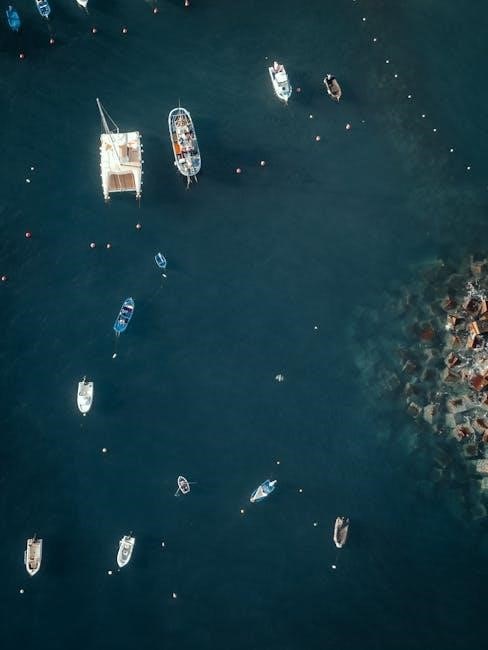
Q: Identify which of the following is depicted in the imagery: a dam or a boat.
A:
boat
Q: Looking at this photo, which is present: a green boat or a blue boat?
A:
blue boat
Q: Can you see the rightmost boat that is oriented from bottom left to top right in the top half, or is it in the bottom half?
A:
bottom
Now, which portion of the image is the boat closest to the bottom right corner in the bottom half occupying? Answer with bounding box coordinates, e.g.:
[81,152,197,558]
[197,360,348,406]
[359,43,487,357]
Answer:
[334,512,348,548]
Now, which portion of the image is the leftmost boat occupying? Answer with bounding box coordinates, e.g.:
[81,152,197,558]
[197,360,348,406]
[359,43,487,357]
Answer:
[5,4,20,32]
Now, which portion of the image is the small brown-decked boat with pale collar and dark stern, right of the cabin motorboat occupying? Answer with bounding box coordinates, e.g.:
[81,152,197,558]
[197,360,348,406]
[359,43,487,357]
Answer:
[324,74,341,102]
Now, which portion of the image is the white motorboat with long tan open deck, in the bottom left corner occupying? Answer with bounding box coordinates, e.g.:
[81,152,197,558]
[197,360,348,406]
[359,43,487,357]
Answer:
[25,530,43,576]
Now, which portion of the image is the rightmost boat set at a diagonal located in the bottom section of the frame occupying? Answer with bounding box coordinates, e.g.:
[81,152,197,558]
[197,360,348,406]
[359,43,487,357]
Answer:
[250,479,276,502]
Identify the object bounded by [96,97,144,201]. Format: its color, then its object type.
white boat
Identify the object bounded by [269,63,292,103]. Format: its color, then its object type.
white boat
